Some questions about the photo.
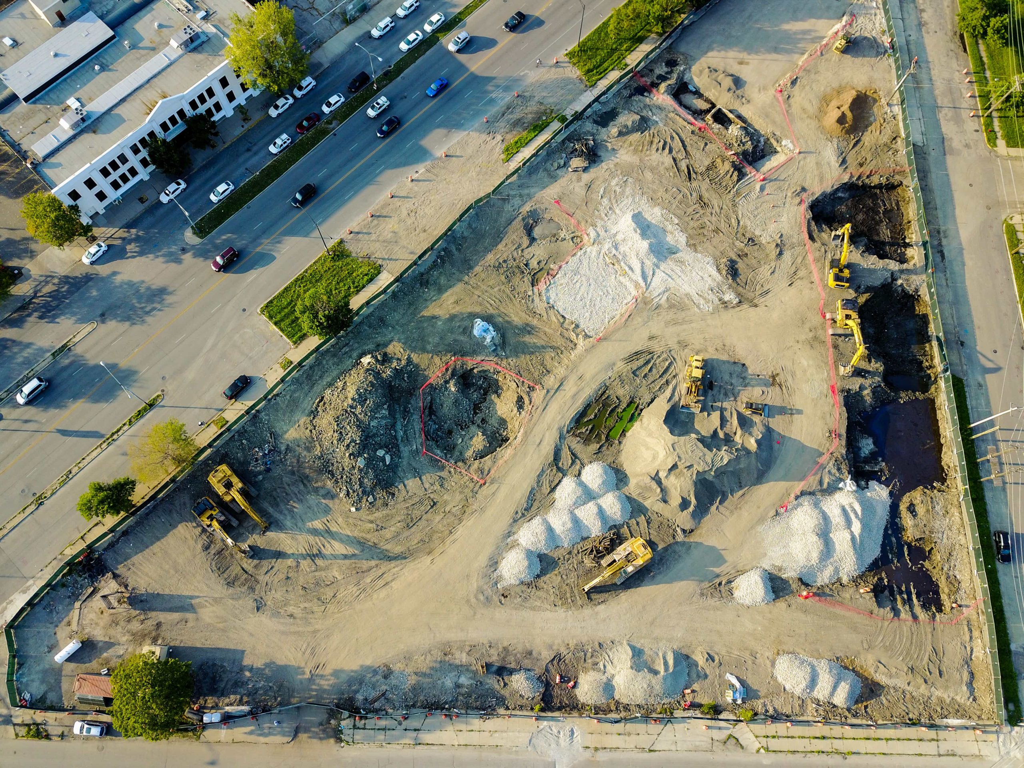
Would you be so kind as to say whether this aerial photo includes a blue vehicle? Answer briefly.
Yes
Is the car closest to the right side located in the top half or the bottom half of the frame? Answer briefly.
bottom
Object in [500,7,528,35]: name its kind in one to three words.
truck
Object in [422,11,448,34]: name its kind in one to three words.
car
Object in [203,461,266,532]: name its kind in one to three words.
work vehicle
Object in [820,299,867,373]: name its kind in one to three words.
work vehicle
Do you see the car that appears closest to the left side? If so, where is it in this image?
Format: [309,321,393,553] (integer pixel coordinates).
[16,376,49,405]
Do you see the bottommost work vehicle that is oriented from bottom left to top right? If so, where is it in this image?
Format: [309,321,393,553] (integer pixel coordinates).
[585,533,658,593]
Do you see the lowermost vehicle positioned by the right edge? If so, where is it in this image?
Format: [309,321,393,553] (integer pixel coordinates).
[992,530,1014,563]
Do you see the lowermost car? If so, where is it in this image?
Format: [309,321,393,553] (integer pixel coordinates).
[74,723,108,740]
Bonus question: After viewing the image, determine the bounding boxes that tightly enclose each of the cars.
[268,94,295,118]
[290,182,318,208]
[345,69,372,94]
[16,376,49,405]
[295,111,322,135]
[992,530,1014,563]
[292,75,318,98]
[422,11,448,34]
[321,91,346,115]
[74,723,108,740]
[375,115,401,139]
[211,246,240,272]
[365,95,391,120]
[394,0,420,21]
[266,131,294,157]
[369,15,395,40]
[424,76,450,99]
[209,180,237,204]
[82,241,110,266]
[446,30,471,54]
[160,180,188,204]
[398,30,424,53]
[222,374,252,401]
